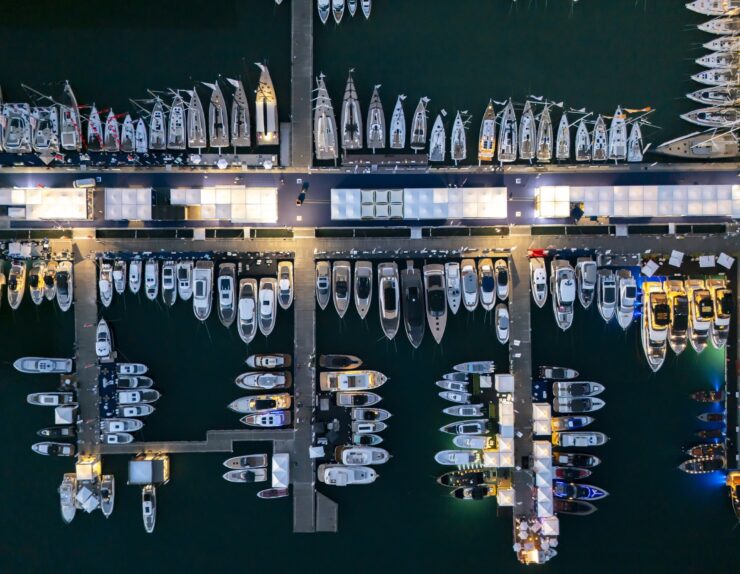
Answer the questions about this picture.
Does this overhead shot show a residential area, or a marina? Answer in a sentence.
What you see here is a marina.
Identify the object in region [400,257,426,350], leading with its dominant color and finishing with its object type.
black boat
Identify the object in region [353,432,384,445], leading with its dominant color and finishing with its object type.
blue boat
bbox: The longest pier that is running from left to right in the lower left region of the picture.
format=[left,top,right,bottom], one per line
[100,429,293,455]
